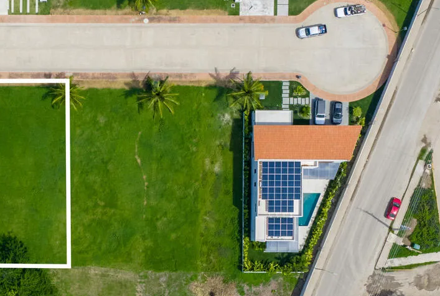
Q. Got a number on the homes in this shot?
one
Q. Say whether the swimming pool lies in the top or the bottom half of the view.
bottom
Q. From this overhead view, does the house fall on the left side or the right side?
right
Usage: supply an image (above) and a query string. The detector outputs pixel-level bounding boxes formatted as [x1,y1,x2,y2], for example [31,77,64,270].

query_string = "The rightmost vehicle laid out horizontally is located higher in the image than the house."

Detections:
[334,2,366,17]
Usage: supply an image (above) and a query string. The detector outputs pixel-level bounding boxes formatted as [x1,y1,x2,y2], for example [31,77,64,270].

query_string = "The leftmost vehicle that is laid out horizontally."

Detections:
[295,23,328,38]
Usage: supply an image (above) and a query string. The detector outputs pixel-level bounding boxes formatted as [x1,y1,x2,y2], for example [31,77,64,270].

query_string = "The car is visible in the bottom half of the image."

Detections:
[384,195,401,221]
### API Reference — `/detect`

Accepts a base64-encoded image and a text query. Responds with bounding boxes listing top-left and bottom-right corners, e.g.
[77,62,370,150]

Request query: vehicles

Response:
[330,100,343,125]
[384,195,401,221]
[314,98,326,125]
[334,2,366,17]
[295,23,328,38]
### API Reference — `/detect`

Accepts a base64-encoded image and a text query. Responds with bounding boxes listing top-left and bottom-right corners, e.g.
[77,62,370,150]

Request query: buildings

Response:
[249,111,362,252]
